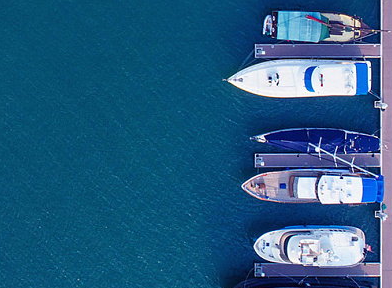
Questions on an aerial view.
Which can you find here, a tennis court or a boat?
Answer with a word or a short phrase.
boat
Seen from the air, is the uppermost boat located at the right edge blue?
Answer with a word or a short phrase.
Yes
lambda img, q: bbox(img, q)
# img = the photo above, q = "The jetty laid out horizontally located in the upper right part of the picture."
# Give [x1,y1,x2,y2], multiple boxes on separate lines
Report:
[254,43,380,58]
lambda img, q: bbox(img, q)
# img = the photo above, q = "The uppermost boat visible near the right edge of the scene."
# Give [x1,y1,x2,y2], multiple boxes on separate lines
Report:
[267,10,390,44]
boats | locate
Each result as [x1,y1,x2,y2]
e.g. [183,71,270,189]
[250,125,379,181]
[240,165,383,205]
[231,276,376,288]
[225,57,372,99]
[262,14,270,38]
[267,10,390,44]
[252,222,375,268]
